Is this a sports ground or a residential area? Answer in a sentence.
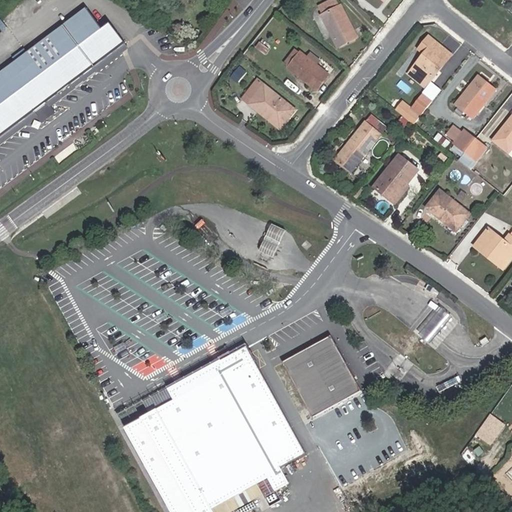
The area seen from above is a residential area.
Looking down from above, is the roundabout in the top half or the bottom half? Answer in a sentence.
You can find the roundabout in the top half.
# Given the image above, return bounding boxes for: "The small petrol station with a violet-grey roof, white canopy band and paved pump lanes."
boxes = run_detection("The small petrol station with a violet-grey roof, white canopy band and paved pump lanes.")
[350,276,510,368]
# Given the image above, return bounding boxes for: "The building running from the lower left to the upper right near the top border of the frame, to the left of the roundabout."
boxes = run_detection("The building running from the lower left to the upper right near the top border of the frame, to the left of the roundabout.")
[0,7,124,138]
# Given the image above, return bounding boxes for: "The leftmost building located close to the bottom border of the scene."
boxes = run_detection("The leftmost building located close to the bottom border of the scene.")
[119,346,304,512]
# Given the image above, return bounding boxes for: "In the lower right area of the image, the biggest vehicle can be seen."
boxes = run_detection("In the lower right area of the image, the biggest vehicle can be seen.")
[436,375,462,392]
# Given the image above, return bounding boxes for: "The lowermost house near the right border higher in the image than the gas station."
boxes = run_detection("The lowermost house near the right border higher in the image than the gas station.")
[472,225,512,272]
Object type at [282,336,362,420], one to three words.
building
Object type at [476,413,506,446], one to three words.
shed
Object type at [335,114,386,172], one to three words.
house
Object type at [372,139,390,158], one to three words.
swimming pool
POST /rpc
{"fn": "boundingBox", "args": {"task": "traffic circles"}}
[148,60,208,120]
